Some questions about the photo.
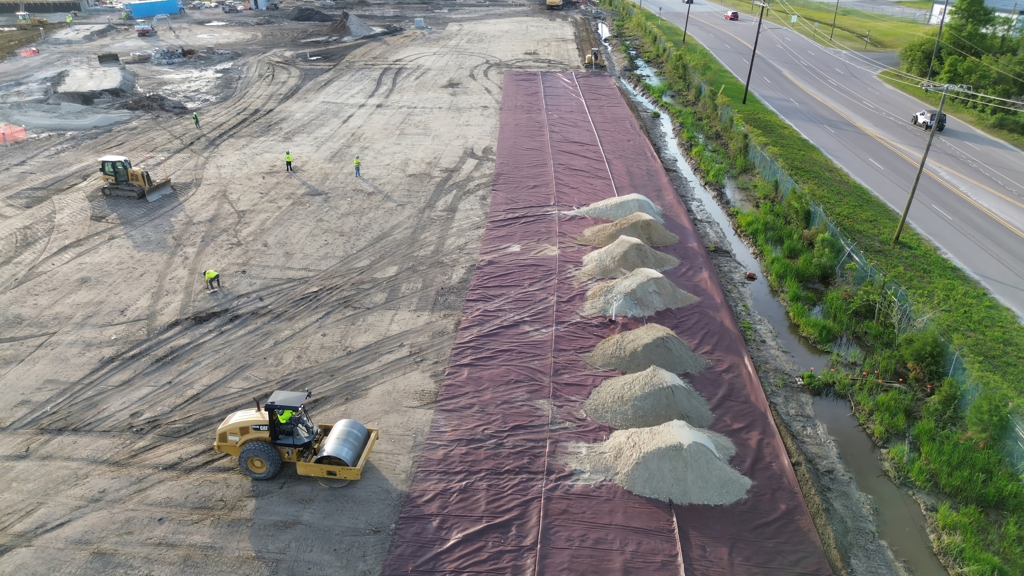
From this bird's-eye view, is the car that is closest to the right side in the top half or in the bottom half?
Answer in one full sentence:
The car that is closest to the right side sits in the top half of the picture.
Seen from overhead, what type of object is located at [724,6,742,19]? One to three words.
vehicle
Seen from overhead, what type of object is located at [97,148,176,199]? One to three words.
work vehicle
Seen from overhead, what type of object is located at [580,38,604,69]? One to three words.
work vehicle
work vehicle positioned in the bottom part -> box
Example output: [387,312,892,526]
[212,384,377,487]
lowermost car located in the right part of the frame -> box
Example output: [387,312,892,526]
[911,109,946,129]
